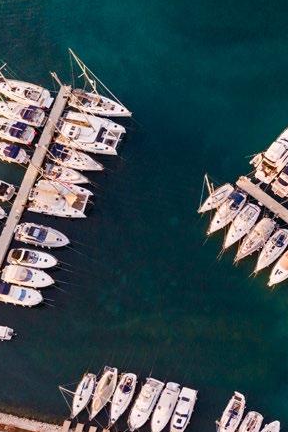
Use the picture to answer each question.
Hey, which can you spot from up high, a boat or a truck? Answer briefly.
boat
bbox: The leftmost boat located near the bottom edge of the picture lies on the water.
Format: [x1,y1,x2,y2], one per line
[58,372,98,425]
